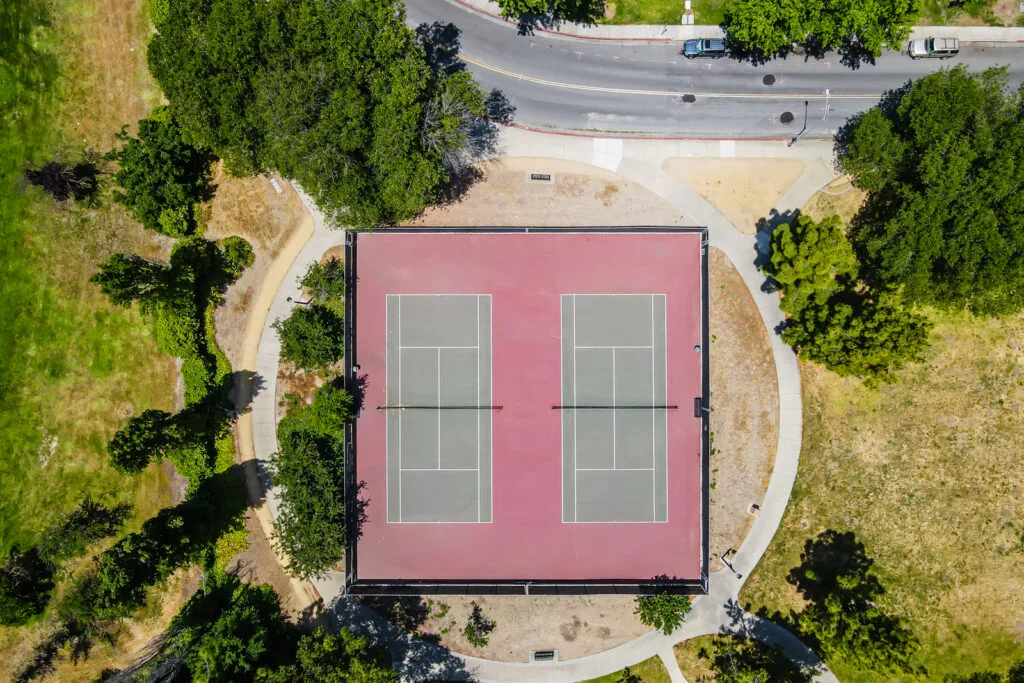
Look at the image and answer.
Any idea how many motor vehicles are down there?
2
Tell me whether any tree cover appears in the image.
Yes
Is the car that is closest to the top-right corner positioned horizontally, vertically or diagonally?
horizontally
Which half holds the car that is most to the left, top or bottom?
top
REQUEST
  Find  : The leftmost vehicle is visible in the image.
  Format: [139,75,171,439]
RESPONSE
[683,36,727,59]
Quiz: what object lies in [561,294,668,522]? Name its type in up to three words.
tennis court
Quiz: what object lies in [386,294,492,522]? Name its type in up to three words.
tennis court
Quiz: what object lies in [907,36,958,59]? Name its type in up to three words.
car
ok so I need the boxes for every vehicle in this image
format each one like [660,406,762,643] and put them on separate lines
[907,36,958,59]
[683,36,727,59]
